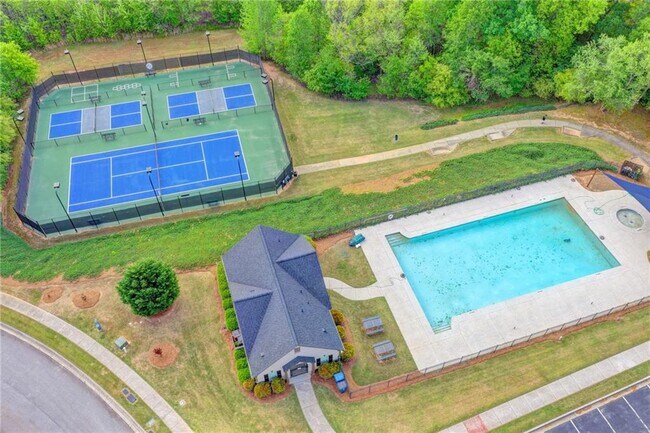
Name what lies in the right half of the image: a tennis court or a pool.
pool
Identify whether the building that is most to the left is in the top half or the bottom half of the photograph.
bottom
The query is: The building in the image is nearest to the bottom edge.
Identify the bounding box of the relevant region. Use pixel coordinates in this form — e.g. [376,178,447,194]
[219,226,346,389]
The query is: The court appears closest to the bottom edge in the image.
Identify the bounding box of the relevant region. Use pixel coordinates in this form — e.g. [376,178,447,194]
[68,129,249,213]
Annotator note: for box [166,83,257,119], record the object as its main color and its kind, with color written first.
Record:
blue sports court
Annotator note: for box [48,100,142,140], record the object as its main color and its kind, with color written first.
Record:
blue sports court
